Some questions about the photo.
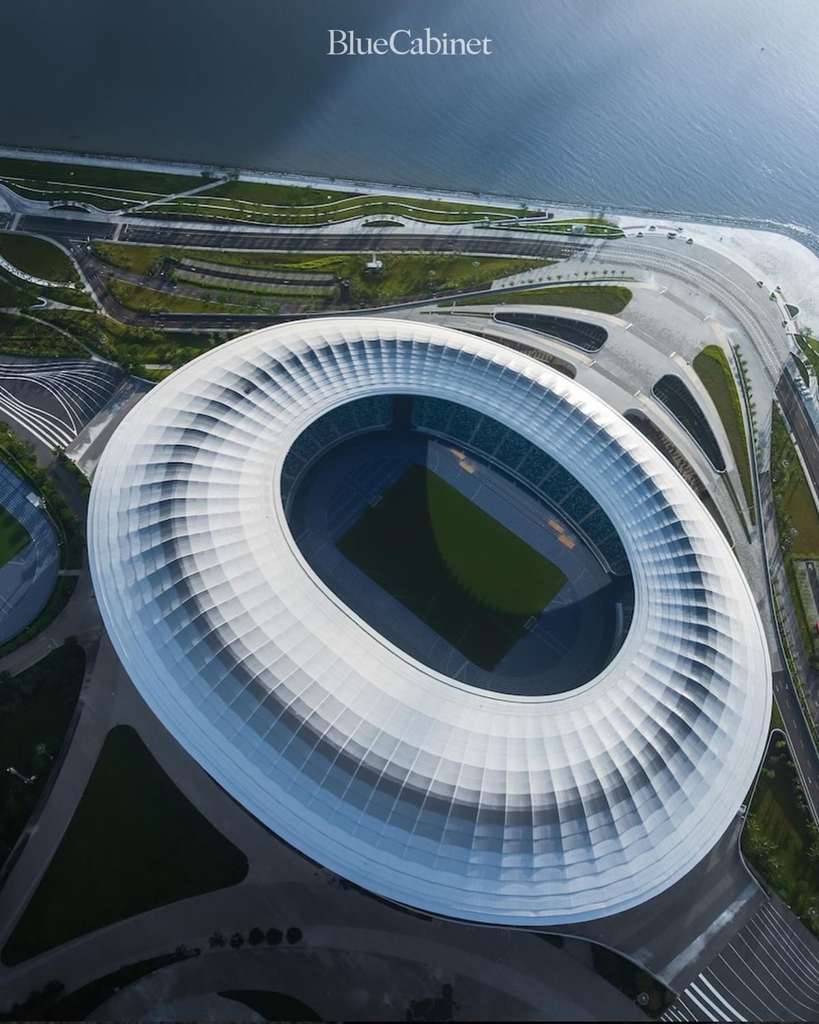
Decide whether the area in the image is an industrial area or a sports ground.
sports ground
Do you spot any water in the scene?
Yes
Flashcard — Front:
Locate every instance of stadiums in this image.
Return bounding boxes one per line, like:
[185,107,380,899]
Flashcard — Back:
[86,316,772,928]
